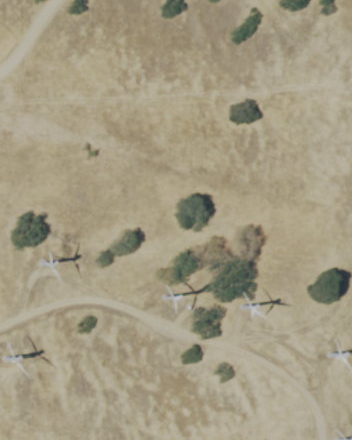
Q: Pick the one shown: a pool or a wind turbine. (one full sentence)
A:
Looking from above, you can make out a wind turbine.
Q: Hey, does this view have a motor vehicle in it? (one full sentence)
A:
No, no motor vehicle can be seen from above.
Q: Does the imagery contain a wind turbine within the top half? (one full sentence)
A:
No, no wind turbine appears within the top half.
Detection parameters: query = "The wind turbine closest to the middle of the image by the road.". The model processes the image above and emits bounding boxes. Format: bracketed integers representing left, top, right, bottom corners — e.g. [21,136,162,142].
[160,282,184,318]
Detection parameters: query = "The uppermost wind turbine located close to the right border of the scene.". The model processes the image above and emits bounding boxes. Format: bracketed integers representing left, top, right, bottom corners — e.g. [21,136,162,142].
[326,340,352,374]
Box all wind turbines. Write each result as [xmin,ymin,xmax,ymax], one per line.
[2,344,28,376]
[238,290,264,318]
[160,282,184,318]
[326,340,352,374]
[38,252,61,284]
